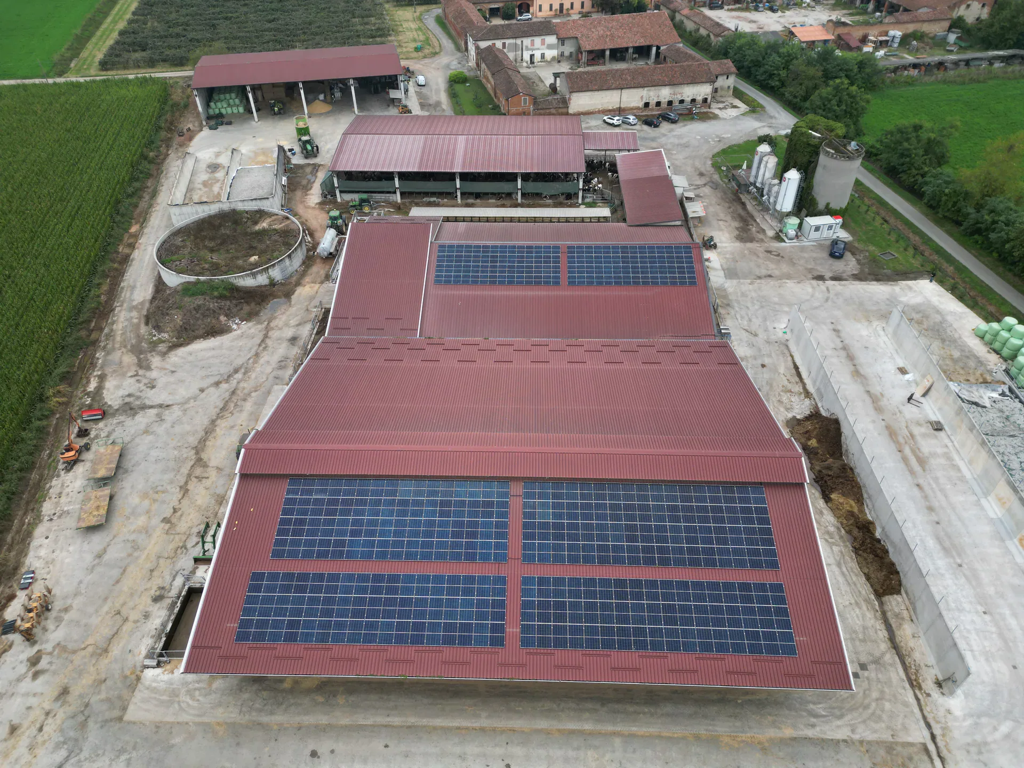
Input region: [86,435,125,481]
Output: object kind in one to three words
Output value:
trailer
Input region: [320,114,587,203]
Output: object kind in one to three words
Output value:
barn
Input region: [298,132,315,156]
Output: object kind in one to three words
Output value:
work vehicle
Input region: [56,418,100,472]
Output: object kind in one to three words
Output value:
work vehicle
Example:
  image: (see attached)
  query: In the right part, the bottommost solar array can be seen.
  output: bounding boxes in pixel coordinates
[519,576,797,656]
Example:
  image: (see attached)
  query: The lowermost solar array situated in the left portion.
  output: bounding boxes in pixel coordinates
[234,571,508,648]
